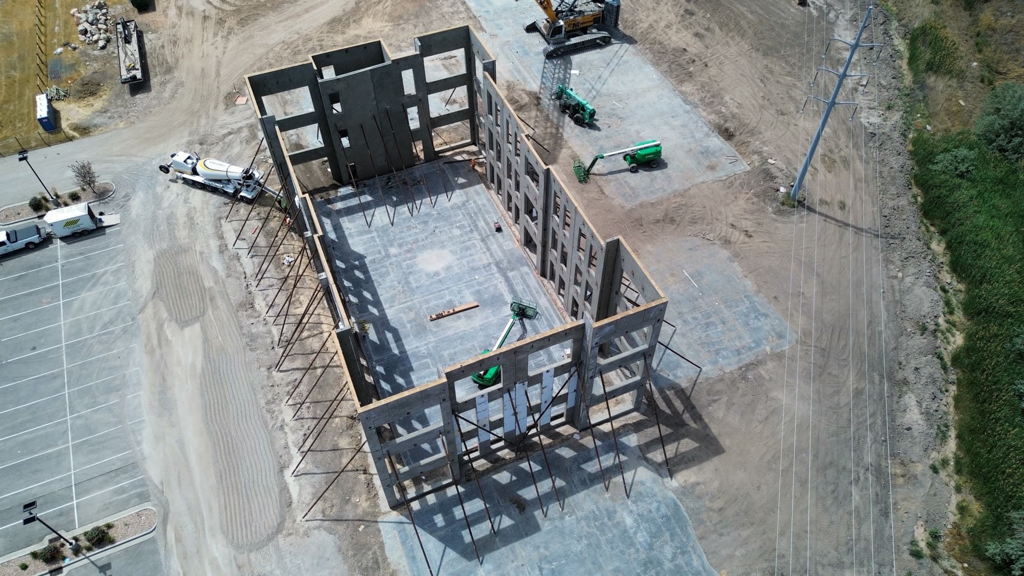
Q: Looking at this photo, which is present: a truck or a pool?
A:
truck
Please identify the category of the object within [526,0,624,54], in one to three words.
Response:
crane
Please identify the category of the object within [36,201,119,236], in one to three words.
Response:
trailer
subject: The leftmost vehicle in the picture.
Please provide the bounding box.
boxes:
[0,227,41,255]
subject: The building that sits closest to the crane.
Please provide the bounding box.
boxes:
[245,24,668,514]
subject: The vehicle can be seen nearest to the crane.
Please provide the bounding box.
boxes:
[547,89,598,124]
